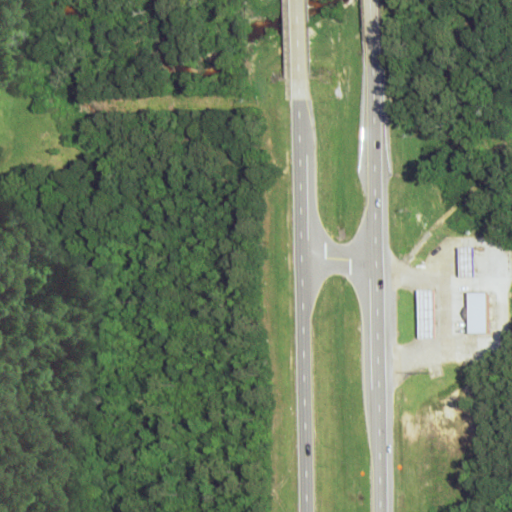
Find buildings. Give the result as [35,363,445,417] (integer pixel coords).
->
[416,290,434,339]
[462,293,488,334]
[458,248,472,277]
